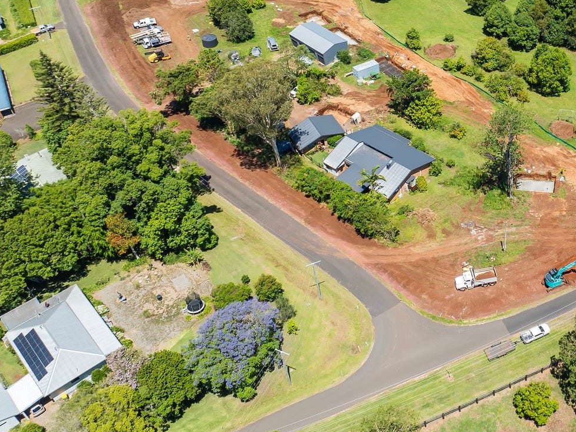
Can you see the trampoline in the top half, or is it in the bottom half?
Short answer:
bottom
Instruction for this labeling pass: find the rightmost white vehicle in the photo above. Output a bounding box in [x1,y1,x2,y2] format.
[521,321,553,343]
